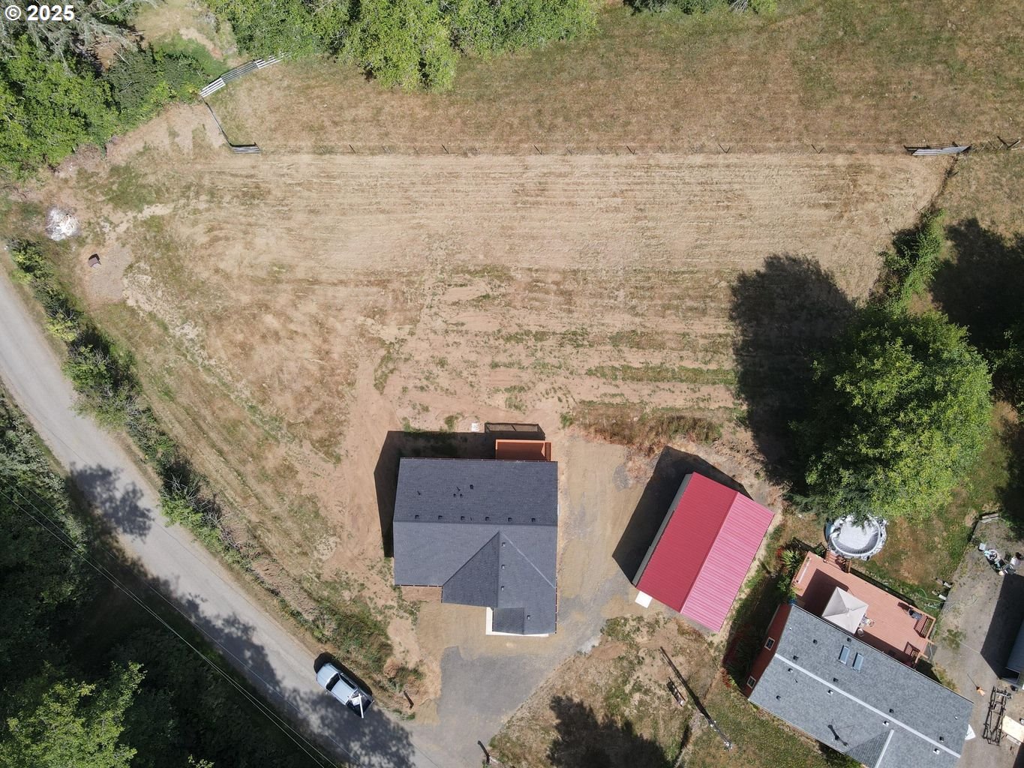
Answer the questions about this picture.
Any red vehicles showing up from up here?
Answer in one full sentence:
No, I can see no red vehicle in this picture.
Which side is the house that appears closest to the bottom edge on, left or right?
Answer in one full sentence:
The house that appears closest to the bottom edge is on the right side of the image.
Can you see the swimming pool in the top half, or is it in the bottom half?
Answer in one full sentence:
You can find the swimming pool in the bottom half.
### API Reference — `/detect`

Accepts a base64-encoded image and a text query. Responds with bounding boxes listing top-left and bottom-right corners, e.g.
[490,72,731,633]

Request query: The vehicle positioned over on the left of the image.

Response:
[319,662,376,718]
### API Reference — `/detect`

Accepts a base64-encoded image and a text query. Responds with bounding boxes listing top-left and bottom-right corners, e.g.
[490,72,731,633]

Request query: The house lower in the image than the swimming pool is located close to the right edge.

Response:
[738,600,975,768]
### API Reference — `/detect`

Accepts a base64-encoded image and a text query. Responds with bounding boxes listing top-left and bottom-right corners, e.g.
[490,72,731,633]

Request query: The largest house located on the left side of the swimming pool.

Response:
[394,457,557,638]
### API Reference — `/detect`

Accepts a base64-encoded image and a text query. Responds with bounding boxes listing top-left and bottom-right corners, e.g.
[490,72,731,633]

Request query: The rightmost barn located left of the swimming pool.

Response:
[630,470,777,629]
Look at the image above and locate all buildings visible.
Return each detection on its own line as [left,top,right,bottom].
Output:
[394,457,557,638]
[738,600,975,768]
[630,470,777,629]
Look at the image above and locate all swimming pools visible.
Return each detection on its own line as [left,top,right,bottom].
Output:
[821,501,888,572]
